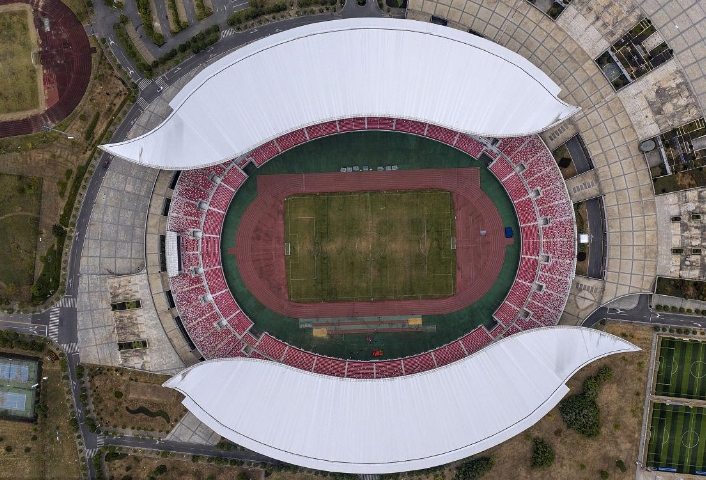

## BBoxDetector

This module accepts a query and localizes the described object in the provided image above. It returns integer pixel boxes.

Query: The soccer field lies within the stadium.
[284,191,456,301]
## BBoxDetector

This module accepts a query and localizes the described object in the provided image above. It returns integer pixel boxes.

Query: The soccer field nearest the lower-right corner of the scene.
[643,402,706,472]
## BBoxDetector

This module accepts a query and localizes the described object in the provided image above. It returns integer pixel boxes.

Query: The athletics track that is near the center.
[229,166,514,321]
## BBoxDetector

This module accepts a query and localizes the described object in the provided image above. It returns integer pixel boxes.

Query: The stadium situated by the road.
[98,17,641,474]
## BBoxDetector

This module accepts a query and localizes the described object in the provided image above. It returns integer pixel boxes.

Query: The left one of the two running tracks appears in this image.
[0,0,90,138]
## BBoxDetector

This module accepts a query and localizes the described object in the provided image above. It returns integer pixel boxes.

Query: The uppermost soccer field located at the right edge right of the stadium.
[654,334,706,401]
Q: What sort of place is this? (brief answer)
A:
sports ground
